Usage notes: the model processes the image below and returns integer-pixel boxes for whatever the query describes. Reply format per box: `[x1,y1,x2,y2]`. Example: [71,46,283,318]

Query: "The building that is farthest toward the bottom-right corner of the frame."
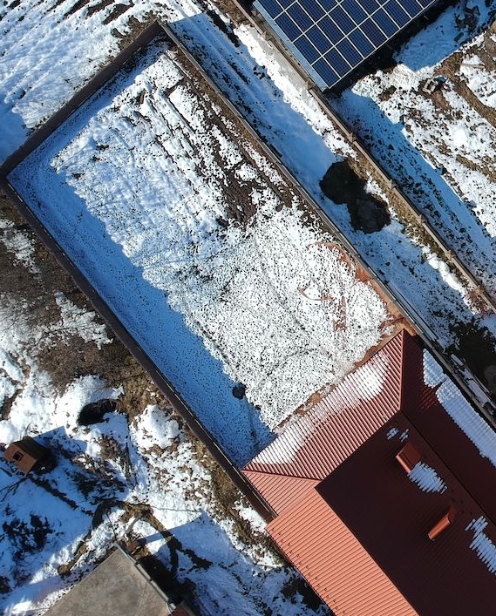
[241,328,496,616]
